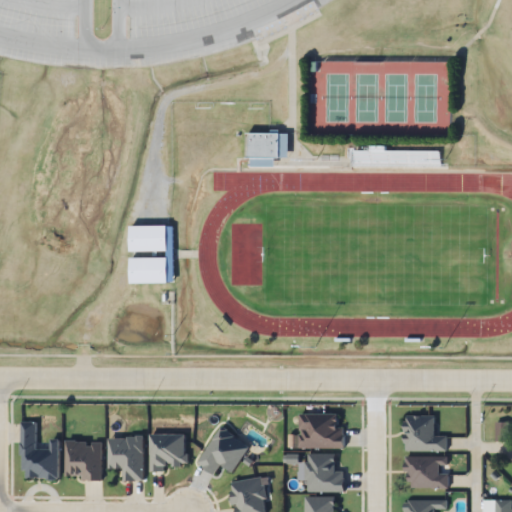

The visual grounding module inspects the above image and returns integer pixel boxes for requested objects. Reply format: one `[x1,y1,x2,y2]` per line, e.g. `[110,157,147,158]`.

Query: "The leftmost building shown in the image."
[20,422,59,480]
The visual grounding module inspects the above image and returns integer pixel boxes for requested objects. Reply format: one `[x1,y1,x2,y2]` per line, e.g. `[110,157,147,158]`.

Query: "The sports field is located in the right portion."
[220,194,512,316]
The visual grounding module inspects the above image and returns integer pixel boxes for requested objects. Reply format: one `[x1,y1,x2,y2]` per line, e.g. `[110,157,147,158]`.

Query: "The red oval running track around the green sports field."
[198,172,512,338]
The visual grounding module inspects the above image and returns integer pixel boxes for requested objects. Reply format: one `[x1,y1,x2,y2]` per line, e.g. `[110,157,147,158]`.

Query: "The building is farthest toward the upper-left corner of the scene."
[128,226,166,252]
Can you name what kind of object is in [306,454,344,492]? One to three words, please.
house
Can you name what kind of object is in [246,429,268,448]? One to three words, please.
swimming pool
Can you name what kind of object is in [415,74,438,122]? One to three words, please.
tennis court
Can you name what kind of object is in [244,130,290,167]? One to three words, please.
building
